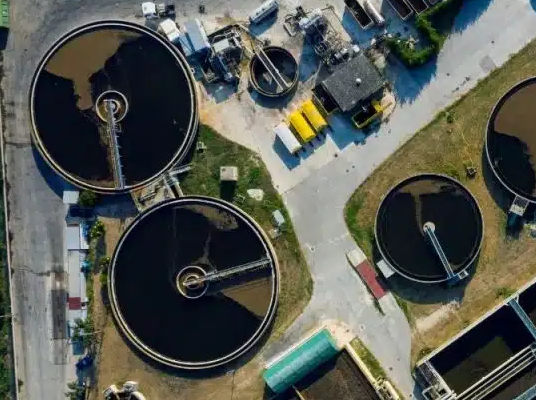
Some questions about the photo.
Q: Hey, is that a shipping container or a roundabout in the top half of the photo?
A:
shipping container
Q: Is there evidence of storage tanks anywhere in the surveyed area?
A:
Yes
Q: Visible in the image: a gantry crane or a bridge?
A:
bridge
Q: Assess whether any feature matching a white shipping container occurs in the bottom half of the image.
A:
No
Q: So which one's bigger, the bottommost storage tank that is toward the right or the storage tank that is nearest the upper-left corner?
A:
the storage tank that is nearest the upper-left corner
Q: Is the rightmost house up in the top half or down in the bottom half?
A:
top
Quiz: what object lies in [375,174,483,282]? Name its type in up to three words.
storage tank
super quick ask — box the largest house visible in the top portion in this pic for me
[322,54,384,113]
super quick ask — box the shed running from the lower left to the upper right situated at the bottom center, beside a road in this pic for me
[261,321,339,392]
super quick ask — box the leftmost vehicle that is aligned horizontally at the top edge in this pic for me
[144,1,178,18]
